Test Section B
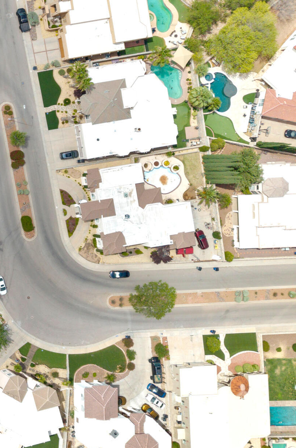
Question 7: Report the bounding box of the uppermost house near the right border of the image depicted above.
[249,27,296,123]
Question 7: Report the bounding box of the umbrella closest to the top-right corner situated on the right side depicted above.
[223,83,236,96]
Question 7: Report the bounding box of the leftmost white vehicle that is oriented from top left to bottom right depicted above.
[145,393,165,410]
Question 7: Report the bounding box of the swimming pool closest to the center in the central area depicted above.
[143,166,183,195]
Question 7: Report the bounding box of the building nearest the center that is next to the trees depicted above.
[68,165,196,256]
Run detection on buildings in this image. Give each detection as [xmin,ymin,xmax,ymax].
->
[65,377,171,448]
[68,165,196,256]
[51,0,153,62]
[249,27,296,123]
[225,160,296,249]
[0,366,64,448]
[68,59,178,159]
[163,358,270,448]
